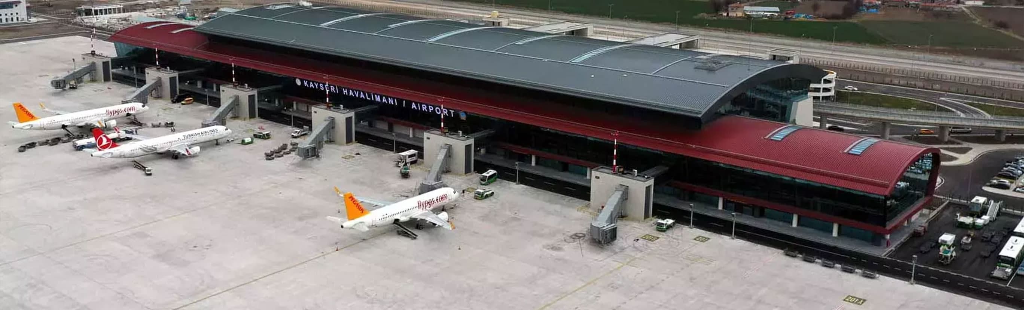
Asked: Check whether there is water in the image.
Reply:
No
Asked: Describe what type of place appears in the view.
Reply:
airport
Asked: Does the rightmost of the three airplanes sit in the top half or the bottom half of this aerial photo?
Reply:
bottom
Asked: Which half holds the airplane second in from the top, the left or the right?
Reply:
left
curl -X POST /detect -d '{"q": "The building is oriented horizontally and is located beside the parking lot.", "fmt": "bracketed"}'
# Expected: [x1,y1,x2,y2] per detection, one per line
[109,0,942,248]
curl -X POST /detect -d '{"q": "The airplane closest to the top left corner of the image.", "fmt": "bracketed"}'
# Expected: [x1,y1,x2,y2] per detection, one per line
[6,103,149,132]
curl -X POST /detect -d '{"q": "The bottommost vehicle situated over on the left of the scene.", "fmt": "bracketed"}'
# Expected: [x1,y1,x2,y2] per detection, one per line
[388,220,414,246]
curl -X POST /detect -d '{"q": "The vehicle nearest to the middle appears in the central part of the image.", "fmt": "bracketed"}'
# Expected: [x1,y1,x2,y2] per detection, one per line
[478,168,500,184]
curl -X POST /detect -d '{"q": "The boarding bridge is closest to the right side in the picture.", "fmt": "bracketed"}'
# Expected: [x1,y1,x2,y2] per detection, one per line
[585,179,632,249]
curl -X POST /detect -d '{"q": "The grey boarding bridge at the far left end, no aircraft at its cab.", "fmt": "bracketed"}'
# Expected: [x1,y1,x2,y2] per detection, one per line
[48,58,97,93]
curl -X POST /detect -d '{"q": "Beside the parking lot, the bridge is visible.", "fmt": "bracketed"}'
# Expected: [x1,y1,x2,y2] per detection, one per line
[812,103,1024,141]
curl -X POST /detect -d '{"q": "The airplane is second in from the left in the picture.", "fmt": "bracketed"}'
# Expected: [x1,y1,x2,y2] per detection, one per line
[83,126,232,160]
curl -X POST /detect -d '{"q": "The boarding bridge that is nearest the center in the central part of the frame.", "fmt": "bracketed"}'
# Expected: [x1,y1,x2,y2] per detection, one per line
[414,139,454,195]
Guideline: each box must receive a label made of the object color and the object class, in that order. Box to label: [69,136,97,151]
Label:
white vehicle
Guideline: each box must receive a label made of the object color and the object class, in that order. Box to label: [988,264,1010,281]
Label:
gray work vehicle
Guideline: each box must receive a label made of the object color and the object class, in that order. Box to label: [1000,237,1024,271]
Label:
white bus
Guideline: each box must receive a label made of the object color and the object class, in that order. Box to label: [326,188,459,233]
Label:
white airplane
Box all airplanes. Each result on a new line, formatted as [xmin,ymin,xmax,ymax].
[83,126,232,160]
[6,103,149,132]
[326,188,459,233]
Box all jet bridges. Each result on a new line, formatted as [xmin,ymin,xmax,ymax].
[414,139,454,195]
[119,73,163,106]
[195,90,241,129]
[294,112,337,160]
[48,58,97,93]
[585,179,632,249]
